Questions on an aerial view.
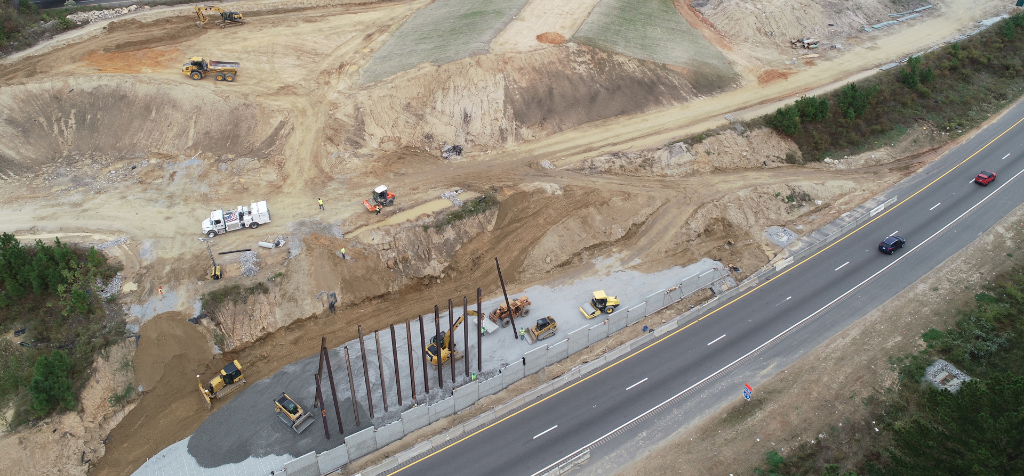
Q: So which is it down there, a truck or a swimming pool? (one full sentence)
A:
I can see a truck in this picture.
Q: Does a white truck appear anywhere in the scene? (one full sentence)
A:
Yes, the frame does contain a white truck.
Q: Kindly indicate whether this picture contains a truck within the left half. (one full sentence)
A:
Yes, within the left half there is a truck.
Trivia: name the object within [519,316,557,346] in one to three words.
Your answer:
work vehicle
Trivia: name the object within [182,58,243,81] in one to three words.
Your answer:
truck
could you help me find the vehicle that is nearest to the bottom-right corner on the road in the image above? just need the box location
[879,237,907,255]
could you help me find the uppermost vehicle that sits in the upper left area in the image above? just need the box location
[193,3,243,26]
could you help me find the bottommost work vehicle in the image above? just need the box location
[273,391,316,437]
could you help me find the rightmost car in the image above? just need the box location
[976,171,998,187]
